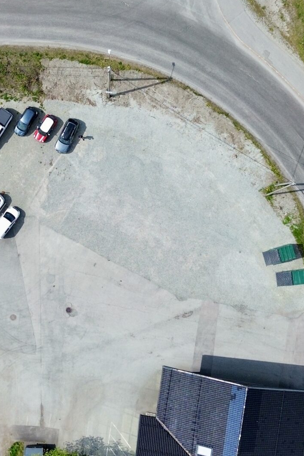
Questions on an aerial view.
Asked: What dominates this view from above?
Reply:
paved ground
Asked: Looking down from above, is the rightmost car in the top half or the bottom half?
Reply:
top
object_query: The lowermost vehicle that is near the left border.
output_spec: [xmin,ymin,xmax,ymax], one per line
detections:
[0,204,21,242]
